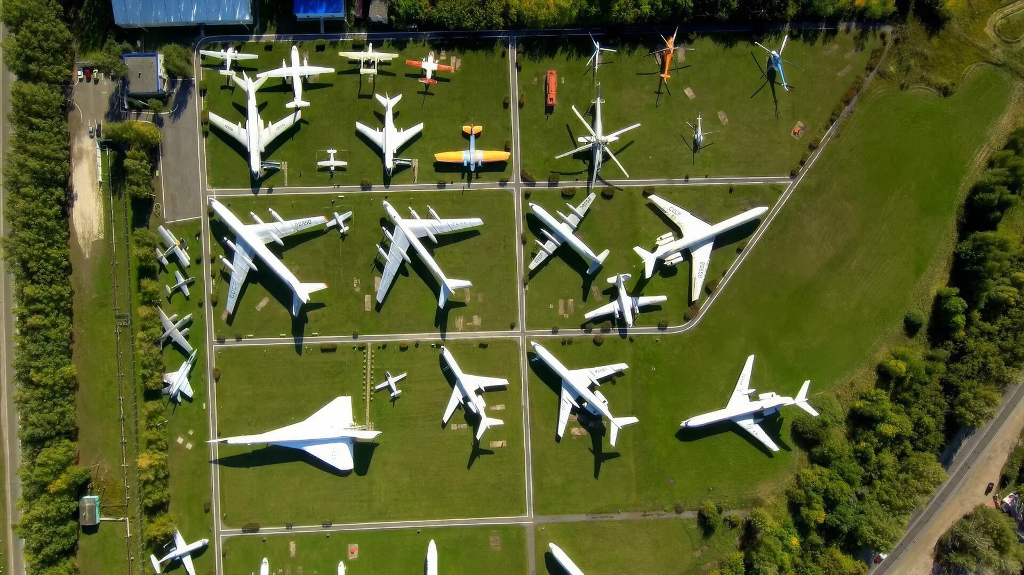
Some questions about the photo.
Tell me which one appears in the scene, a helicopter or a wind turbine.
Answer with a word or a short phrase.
helicopter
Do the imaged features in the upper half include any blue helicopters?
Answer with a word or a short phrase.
Yes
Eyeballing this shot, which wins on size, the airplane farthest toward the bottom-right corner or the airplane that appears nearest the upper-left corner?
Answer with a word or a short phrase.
the airplane farthest toward the bottom-right corner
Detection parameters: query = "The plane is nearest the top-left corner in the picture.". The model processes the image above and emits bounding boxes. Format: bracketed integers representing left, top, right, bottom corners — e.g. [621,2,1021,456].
[201,48,259,76]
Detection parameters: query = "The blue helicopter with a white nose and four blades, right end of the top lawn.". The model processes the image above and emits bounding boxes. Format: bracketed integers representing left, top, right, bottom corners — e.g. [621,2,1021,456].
[755,35,803,90]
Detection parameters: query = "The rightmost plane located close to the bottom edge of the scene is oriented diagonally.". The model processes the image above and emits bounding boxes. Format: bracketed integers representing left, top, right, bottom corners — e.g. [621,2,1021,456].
[549,543,583,575]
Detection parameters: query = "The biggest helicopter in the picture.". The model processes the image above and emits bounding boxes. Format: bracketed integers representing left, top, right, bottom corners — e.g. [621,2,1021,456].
[555,82,640,186]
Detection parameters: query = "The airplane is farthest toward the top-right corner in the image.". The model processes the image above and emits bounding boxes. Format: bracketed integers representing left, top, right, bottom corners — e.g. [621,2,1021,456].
[632,195,768,302]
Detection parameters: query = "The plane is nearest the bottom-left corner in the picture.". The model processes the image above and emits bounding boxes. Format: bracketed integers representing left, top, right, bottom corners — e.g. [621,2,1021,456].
[153,521,209,575]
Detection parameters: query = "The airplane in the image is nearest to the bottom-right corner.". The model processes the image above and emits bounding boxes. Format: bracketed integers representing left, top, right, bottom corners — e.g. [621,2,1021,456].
[680,356,818,452]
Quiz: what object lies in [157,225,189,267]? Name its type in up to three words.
airplane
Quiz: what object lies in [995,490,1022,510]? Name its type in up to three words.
house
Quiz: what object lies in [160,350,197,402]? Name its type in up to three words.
airplane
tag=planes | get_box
[339,44,399,76]
[201,48,259,76]
[434,124,510,171]
[165,271,196,297]
[356,89,423,175]
[338,561,345,575]
[210,198,326,321]
[442,346,509,440]
[251,557,279,575]
[374,371,407,396]
[529,193,610,274]
[207,394,379,470]
[325,212,352,234]
[160,350,197,402]
[157,225,189,267]
[371,201,485,309]
[317,148,347,171]
[680,356,818,452]
[549,543,583,575]
[151,306,193,352]
[531,341,639,448]
[585,273,667,327]
[425,539,439,575]
[632,195,768,302]
[407,52,453,84]
[153,521,209,575]
[207,69,299,179]
[257,46,335,106]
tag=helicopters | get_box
[555,82,640,186]
[587,32,617,72]
[755,35,803,90]
[643,27,694,85]
[687,115,718,154]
